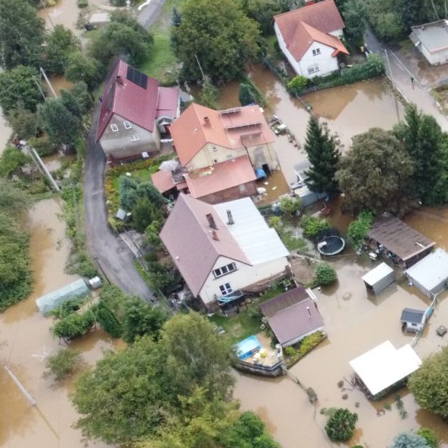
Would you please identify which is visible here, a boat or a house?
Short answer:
house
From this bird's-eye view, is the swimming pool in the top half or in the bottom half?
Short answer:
bottom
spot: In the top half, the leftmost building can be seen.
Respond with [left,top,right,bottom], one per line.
[95,61,161,160]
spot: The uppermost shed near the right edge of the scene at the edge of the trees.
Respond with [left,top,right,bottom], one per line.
[411,19,448,66]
